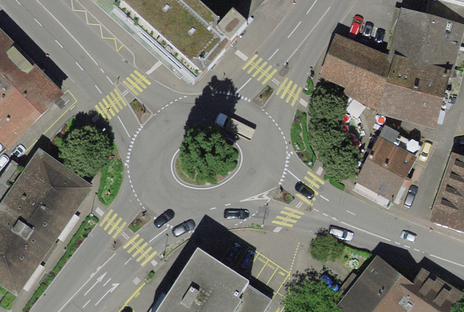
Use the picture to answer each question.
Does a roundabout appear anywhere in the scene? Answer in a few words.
Yes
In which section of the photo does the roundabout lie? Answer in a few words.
center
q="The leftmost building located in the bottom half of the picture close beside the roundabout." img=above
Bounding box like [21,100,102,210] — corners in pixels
[0,149,92,296]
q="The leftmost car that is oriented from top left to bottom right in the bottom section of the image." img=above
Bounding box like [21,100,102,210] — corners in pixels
[294,180,316,201]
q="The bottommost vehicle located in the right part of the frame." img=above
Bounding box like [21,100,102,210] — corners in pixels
[321,273,340,292]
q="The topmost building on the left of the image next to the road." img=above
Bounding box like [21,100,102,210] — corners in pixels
[104,0,248,87]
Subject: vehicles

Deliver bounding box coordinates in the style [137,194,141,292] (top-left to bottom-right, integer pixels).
[329,226,354,242]
[401,230,416,242]
[172,220,196,238]
[154,209,176,230]
[239,249,258,270]
[294,180,316,201]
[225,208,249,220]
[0,153,12,172]
[350,14,364,36]
[374,26,386,45]
[404,186,418,208]
[362,20,374,39]
[321,273,340,292]
[10,142,28,160]
[452,136,464,146]
[420,140,433,162]
[214,112,258,141]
